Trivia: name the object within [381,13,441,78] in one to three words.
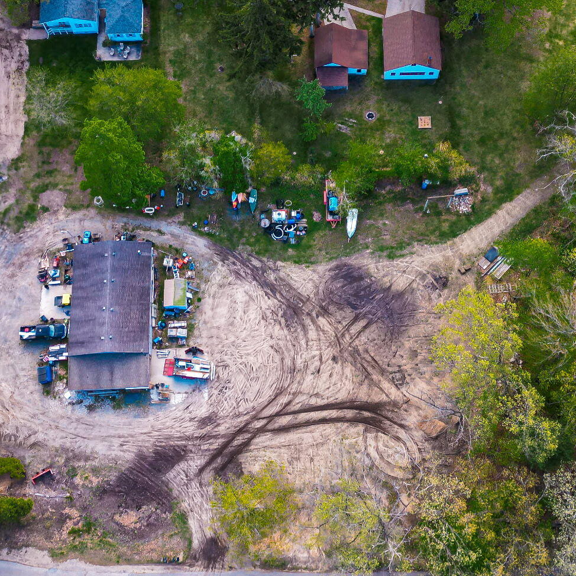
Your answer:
building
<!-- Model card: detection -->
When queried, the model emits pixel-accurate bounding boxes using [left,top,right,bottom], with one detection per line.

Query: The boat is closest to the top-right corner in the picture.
[347,205,360,245]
